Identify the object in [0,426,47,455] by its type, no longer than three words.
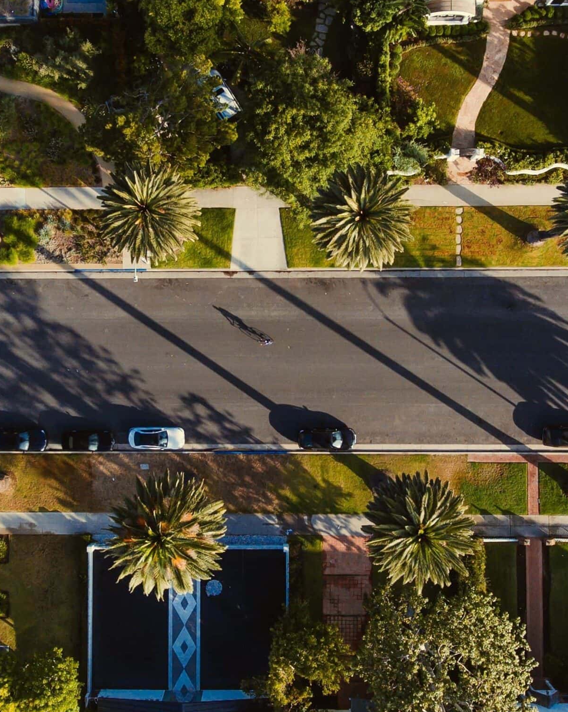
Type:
car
